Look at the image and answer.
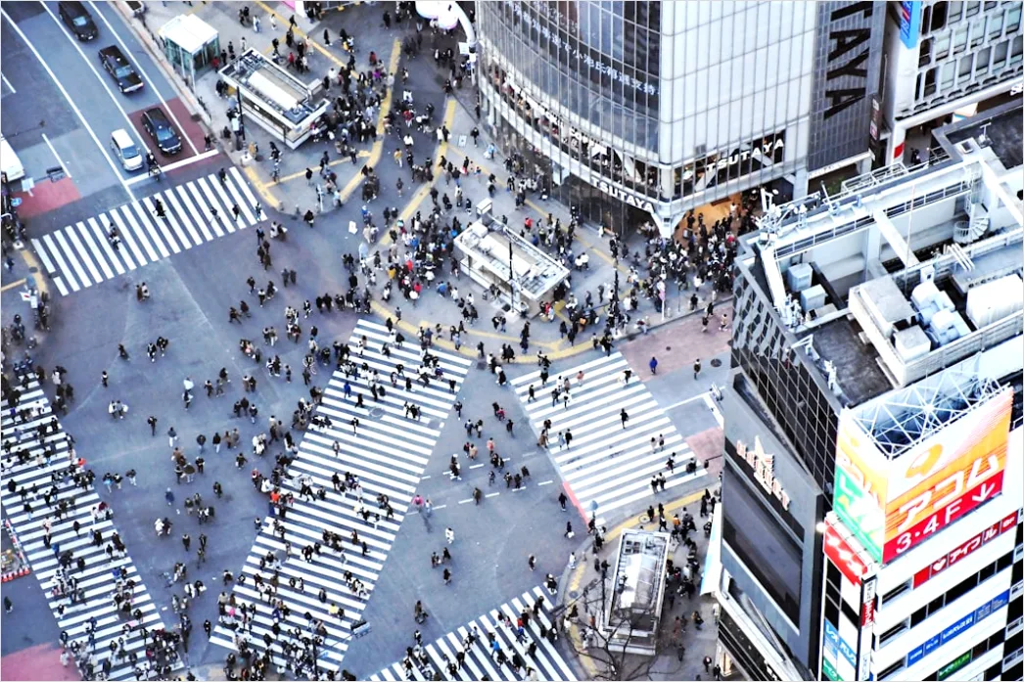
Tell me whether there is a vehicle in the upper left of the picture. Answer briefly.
Yes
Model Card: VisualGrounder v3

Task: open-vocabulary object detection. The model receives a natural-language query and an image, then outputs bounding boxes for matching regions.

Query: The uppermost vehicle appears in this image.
[54,0,103,40]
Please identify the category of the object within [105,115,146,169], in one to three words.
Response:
car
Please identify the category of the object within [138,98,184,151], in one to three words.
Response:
car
